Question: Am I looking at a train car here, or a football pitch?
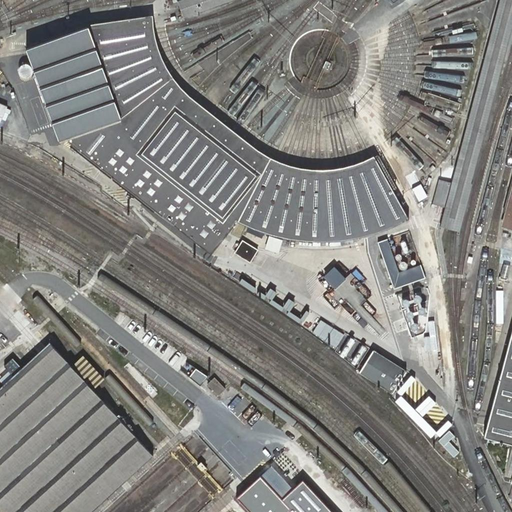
train car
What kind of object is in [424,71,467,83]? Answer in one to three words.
rail car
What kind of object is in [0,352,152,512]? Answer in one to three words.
building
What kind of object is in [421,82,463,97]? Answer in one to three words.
rail car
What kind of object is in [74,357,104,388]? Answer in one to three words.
shed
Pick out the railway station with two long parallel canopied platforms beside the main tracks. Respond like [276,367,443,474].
[94,272,402,512]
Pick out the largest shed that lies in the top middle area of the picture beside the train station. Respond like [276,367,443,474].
[70,16,408,254]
